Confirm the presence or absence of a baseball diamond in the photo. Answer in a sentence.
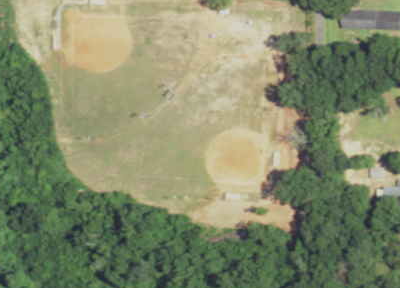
Yes, there is a baseball diamond in the image.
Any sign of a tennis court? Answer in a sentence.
No, no tennis court can be seen from above.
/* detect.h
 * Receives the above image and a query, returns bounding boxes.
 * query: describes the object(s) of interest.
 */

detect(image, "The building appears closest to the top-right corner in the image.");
[342,11,400,32]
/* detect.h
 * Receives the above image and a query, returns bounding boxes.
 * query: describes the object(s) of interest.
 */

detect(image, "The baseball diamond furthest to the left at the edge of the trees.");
[63,8,198,140]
